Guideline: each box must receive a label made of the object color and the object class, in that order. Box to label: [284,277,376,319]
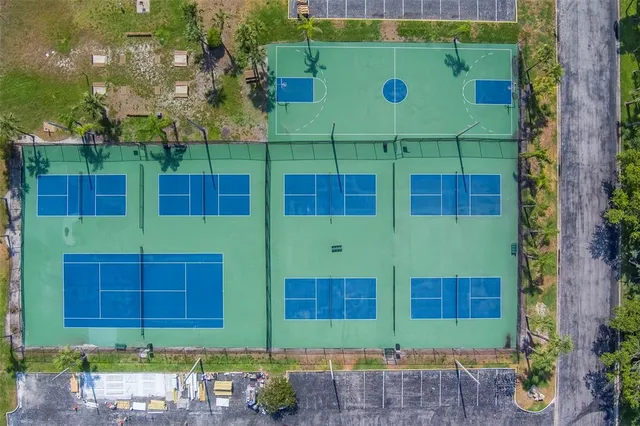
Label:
blue sports court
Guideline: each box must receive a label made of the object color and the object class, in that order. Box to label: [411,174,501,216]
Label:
blue sports court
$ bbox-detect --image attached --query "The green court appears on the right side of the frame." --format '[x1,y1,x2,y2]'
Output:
[268,43,518,141]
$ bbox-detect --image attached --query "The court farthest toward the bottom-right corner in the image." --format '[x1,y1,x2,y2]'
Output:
[411,277,501,319]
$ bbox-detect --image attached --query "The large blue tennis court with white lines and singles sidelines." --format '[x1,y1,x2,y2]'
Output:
[64,254,224,329]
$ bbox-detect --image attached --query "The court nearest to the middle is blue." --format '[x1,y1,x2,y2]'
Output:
[284,174,376,216]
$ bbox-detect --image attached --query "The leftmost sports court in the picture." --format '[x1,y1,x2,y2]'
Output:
[37,174,126,216]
